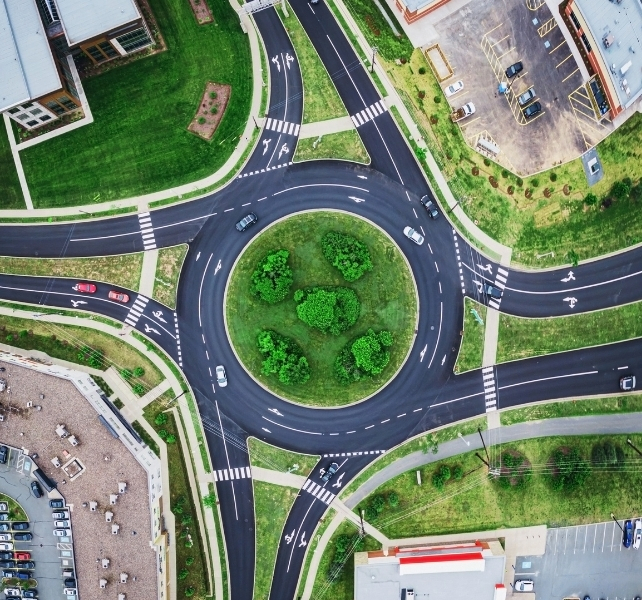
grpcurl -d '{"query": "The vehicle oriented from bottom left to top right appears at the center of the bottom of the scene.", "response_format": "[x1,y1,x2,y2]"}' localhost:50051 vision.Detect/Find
[321,460,340,483]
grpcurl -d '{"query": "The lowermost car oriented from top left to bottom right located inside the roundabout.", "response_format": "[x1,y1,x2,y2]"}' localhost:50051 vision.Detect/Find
[403,225,425,245]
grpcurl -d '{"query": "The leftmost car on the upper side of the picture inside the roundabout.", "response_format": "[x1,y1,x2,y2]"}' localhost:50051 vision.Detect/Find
[235,212,258,232]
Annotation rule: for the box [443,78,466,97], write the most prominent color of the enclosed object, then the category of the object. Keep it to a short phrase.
white car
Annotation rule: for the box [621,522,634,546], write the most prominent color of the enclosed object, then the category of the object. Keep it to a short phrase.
blue vehicle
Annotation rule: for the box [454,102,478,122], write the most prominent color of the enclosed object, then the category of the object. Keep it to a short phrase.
white vehicle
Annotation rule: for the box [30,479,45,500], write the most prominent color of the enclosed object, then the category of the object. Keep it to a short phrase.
black car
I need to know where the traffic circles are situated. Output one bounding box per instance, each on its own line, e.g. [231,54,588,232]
[180,163,463,454]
